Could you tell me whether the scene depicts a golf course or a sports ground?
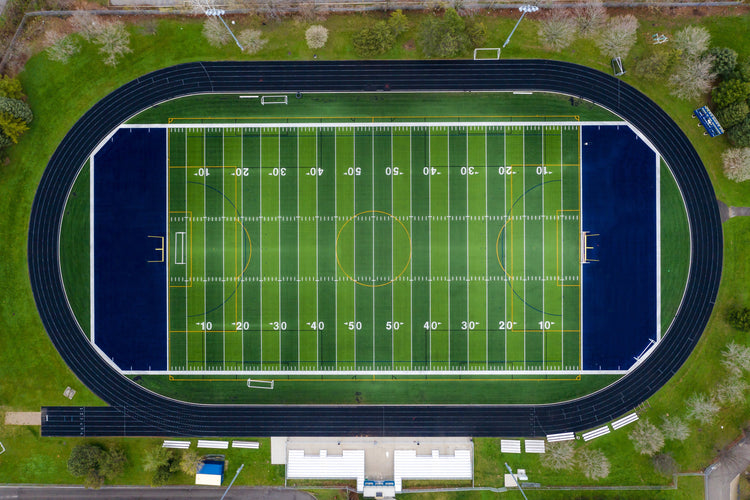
sports ground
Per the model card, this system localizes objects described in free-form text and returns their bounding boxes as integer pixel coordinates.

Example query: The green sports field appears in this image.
[61,91,691,405]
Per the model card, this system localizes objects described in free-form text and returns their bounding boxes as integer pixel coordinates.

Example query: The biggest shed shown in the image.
[196,460,224,485]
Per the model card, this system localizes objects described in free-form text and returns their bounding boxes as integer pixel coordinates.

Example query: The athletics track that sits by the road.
[29,59,724,436]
